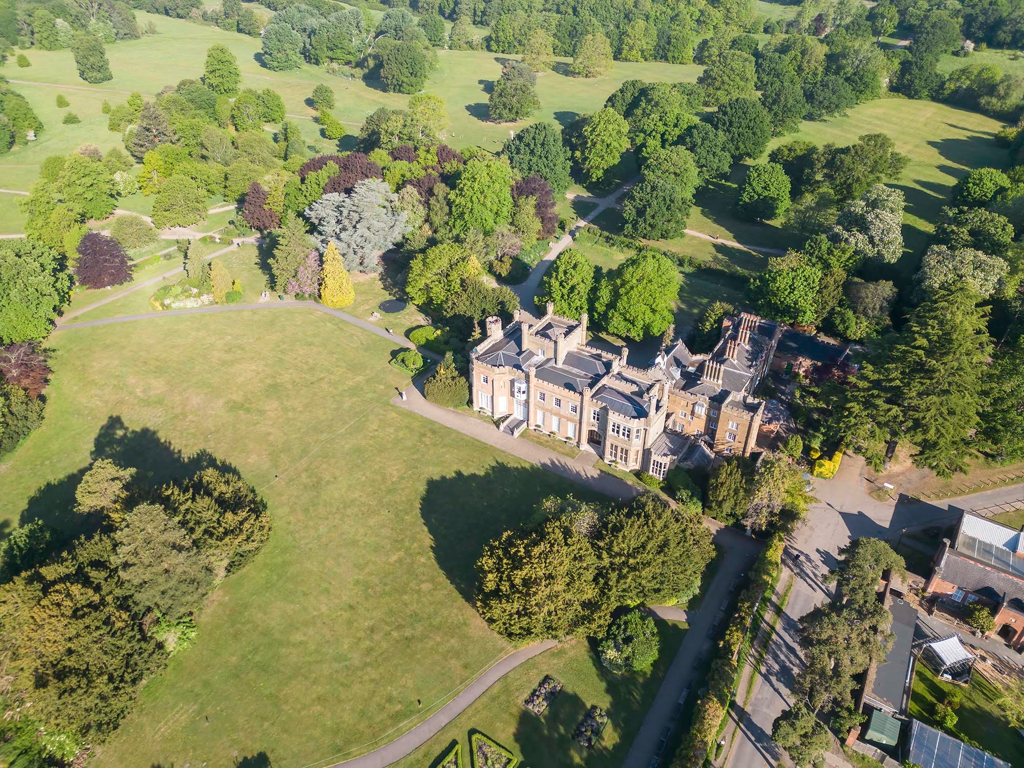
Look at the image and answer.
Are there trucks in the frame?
No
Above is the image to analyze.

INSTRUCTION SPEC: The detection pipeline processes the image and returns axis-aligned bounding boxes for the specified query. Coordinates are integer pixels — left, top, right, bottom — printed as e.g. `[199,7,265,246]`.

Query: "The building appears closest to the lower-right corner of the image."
[902,719,1020,768]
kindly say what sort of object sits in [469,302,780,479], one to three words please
house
